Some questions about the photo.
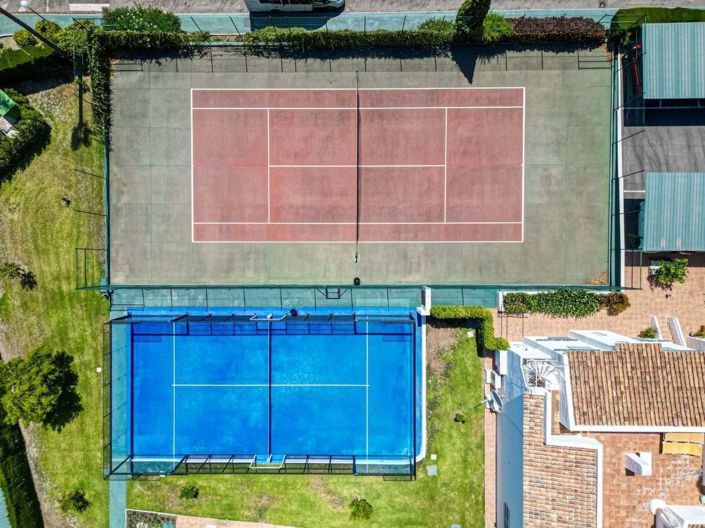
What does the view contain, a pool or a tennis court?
tennis court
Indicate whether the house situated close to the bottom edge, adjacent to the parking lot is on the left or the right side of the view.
right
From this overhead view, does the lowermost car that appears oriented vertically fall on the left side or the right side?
right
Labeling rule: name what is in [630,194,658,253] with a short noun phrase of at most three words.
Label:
car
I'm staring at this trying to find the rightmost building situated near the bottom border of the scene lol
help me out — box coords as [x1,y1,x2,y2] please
[496,331,705,528]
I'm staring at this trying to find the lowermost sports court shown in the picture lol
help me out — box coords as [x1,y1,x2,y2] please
[126,308,426,465]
